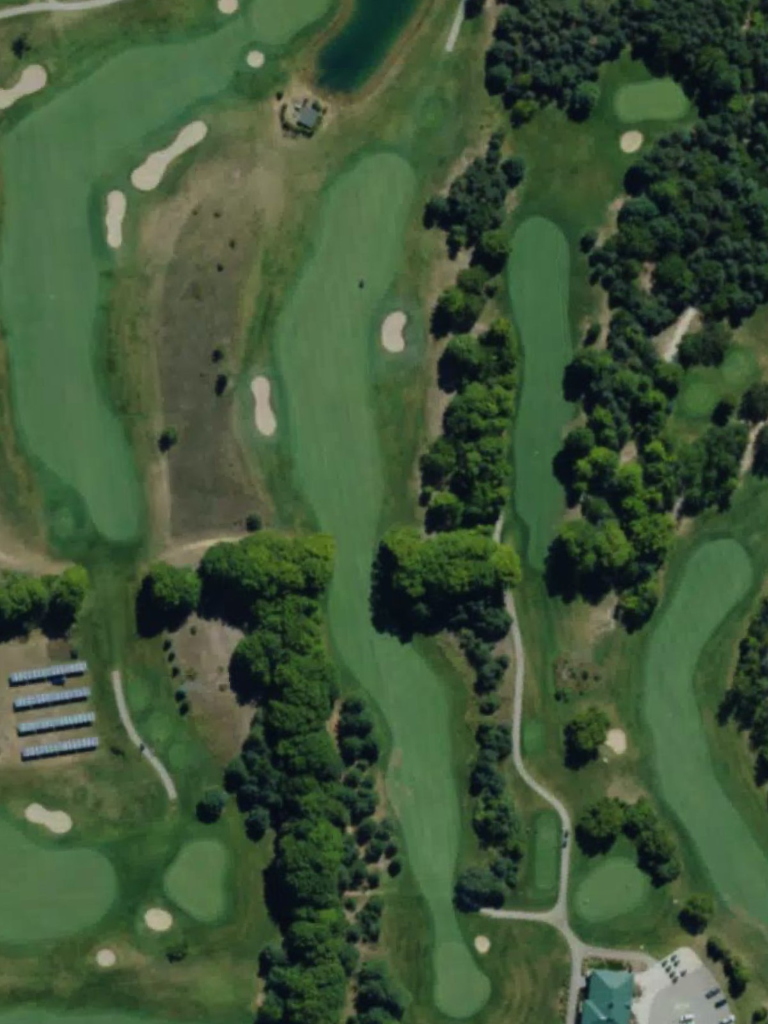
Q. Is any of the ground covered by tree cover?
Yes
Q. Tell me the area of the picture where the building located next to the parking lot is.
bottom right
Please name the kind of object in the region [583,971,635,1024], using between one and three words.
building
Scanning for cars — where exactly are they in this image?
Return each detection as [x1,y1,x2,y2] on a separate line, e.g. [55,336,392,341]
[680,1014,695,1021]
[722,1015,735,1024]
[706,988,720,999]
[715,999,728,1009]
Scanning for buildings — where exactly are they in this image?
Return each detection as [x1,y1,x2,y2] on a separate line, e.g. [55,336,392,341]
[583,971,635,1024]
[299,108,316,126]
